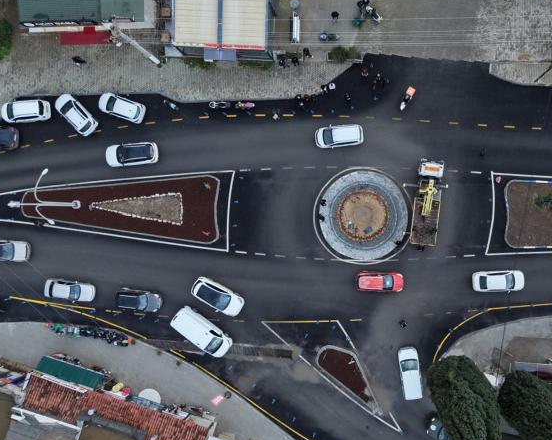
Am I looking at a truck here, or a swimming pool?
truck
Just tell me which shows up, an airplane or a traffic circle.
traffic circle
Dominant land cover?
paved ground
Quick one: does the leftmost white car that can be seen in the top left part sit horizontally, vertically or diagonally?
horizontally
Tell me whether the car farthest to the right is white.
Yes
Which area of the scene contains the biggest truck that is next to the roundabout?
right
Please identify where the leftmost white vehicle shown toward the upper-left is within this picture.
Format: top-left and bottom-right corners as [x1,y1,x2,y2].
[1,98,55,123]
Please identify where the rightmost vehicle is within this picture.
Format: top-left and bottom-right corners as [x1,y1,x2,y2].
[470,269,526,294]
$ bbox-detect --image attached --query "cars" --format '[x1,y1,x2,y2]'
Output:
[0,238,35,262]
[44,277,99,303]
[191,276,246,315]
[97,92,150,124]
[314,125,365,149]
[0,126,23,148]
[56,91,101,140]
[397,344,423,401]
[470,269,526,294]
[355,269,407,294]
[1,98,55,123]
[114,288,166,315]
[105,142,161,167]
